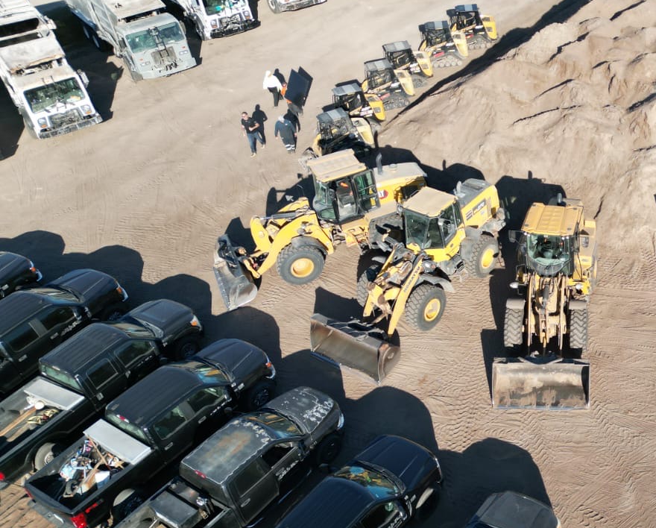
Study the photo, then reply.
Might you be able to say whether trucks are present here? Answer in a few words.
Yes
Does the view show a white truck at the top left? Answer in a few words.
Yes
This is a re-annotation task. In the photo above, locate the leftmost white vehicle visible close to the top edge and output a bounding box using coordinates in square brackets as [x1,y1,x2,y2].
[0,0,101,133]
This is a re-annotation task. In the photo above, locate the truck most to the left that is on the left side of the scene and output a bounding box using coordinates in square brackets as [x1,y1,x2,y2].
[0,248,48,310]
